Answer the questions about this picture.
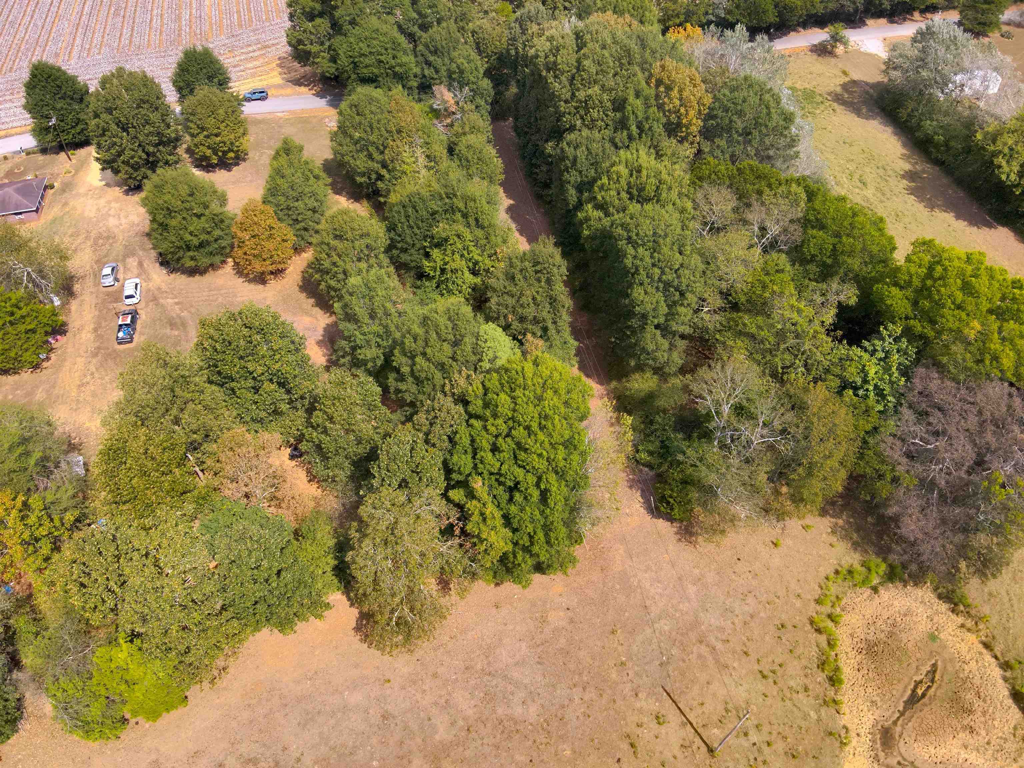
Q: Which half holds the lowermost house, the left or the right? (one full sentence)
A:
The lowermost house sits on the left side.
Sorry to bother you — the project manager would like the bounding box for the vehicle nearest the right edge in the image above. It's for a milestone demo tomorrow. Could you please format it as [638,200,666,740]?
[242,87,268,102]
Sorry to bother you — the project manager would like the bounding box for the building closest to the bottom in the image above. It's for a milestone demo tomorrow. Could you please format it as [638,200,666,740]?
[0,177,51,232]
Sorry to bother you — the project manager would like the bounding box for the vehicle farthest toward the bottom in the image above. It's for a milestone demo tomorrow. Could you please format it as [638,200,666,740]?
[114,311,142,347]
